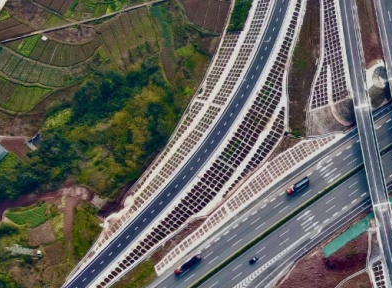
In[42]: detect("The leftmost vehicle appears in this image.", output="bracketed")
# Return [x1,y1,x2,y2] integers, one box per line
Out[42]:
[173,253,200,275]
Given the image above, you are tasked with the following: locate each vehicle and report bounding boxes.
[286,176,309,194]
[247,255,257,265]
[173,253,200,275]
